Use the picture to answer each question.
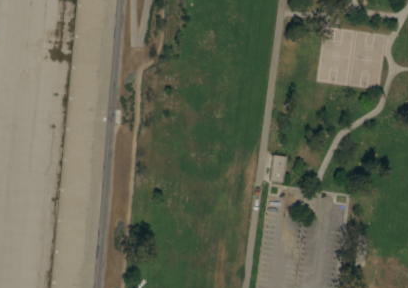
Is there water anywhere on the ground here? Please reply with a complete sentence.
Yes, there is water in the image.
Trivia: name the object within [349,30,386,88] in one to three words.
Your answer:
basketball court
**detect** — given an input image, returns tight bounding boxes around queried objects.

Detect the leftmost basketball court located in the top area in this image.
[317,27,354,85]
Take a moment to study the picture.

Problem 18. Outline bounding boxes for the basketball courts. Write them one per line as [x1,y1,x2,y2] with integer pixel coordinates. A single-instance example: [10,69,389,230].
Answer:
[349,30,386,88]
[317,27,354,85]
